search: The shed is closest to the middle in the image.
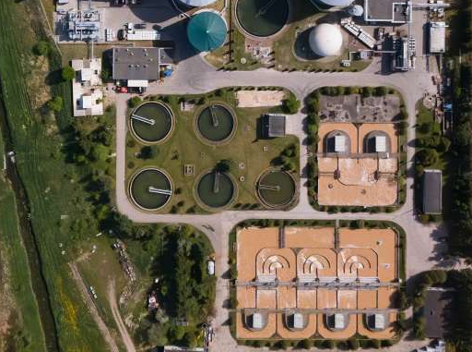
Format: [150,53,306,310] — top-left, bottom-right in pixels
[269,113,285,136]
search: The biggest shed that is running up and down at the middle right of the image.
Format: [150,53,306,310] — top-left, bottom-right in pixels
[421,168,442,214]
